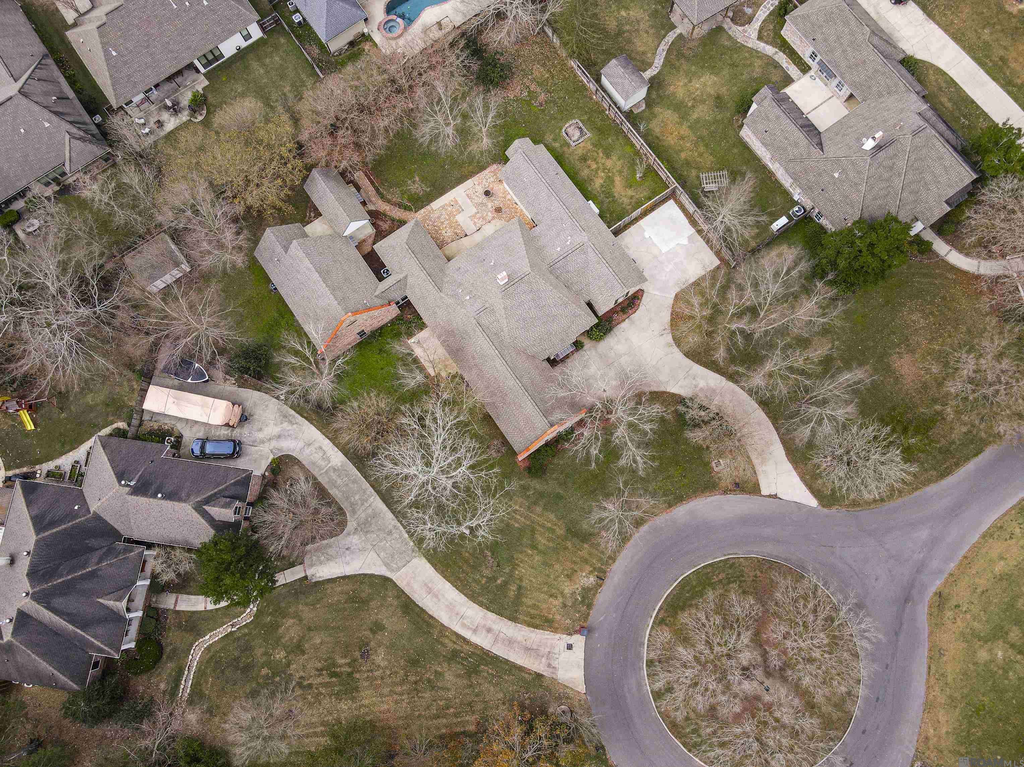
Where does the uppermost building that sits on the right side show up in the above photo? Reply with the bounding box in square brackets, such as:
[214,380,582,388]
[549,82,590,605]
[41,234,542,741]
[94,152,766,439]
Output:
[669,0,738,37]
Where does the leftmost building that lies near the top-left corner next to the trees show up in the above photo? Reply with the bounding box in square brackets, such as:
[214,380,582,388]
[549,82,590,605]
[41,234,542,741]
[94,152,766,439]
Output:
[0,0,118,223]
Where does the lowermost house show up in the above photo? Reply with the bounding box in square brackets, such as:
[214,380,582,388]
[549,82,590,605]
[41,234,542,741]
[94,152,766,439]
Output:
[0,434,258,691]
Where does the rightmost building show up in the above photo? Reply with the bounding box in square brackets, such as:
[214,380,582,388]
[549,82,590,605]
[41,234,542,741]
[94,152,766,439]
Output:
[739,0,981,235]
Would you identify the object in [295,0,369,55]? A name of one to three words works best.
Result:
building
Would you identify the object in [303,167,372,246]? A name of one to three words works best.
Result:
house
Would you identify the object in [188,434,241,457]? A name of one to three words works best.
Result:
car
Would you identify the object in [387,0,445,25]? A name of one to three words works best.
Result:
swimming pool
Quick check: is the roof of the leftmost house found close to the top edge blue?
No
